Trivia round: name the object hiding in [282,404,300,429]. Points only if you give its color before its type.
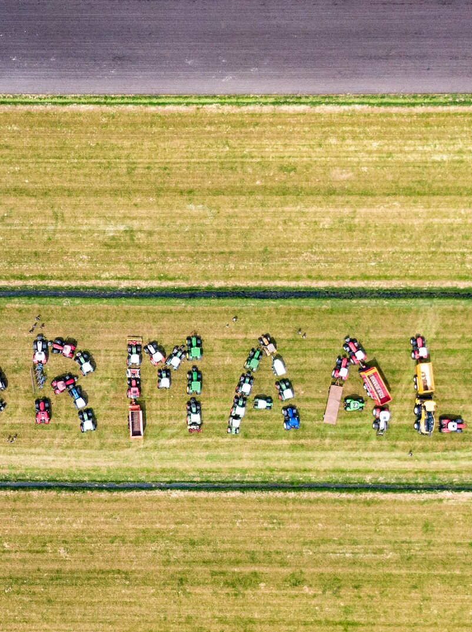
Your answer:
blue work vehicle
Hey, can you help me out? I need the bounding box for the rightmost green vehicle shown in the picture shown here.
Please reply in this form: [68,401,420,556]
[343,399,366,412]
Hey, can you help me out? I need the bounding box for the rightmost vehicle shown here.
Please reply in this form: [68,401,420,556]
[439,419,465,432]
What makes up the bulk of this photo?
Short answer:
grass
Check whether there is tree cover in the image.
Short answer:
No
